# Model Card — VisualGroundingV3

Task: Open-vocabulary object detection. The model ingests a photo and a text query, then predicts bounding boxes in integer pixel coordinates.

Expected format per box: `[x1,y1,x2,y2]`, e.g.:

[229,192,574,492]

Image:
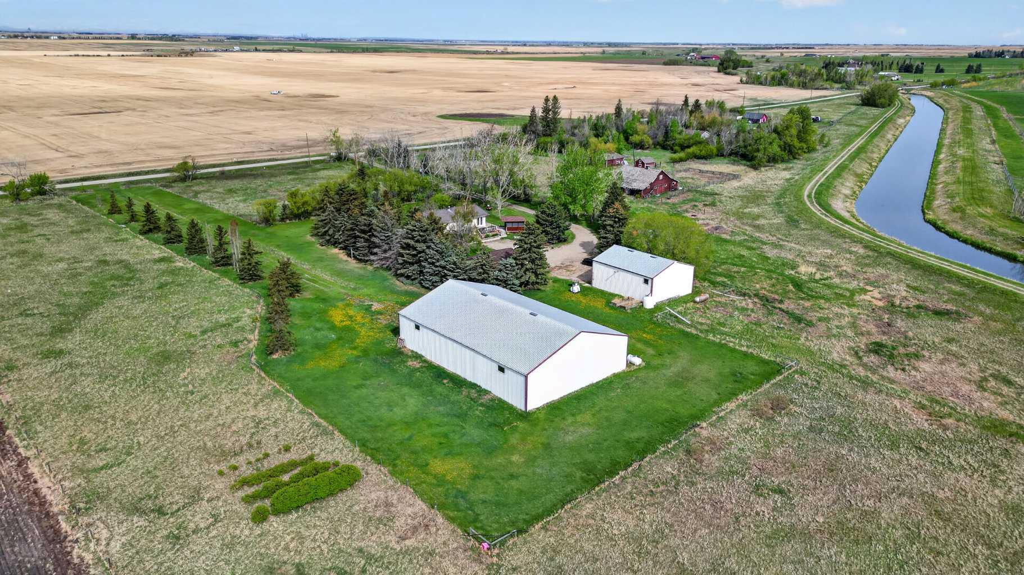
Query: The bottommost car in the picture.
[572,268,592,282]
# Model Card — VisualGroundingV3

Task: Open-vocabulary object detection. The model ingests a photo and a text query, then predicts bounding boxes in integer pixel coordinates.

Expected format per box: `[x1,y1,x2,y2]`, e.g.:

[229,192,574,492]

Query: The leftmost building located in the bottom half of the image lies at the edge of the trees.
[398,279,631,412]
